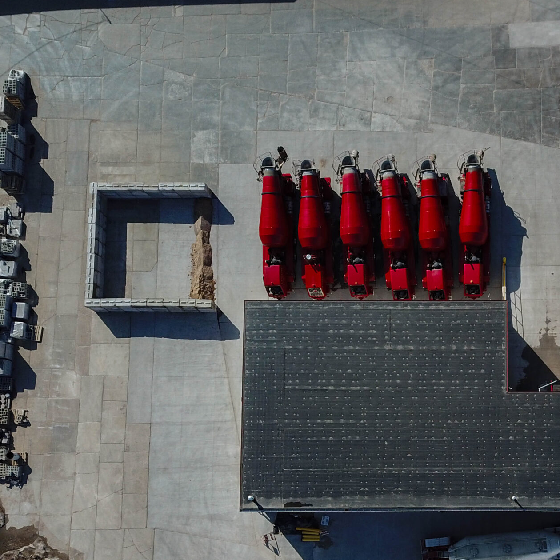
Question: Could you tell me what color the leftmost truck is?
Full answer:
The leftmost truck is red.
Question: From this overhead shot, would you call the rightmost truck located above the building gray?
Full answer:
No, the color of the rightmost truck located above the building is red.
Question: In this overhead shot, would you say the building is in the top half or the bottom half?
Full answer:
Seen from above, the building lies in the bottom half of the view.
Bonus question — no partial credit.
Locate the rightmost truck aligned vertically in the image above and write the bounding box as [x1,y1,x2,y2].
[457,150,493,300]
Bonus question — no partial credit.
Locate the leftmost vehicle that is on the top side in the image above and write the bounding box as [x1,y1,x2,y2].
[257,147,293,300]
